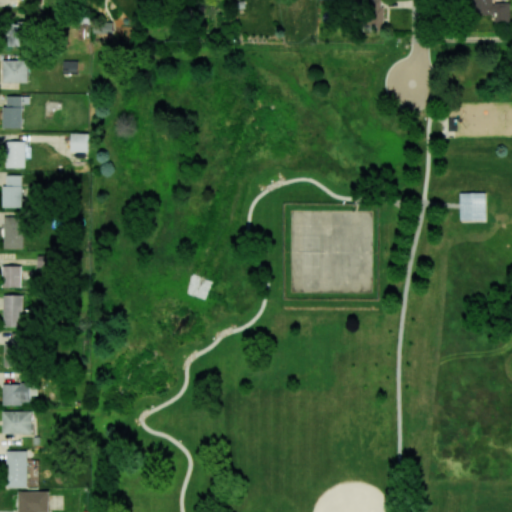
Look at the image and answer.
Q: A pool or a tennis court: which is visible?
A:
tennis court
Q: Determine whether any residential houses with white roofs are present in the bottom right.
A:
No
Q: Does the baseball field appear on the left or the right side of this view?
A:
right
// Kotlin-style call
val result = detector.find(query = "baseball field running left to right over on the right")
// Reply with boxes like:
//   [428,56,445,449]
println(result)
[313,480,386,512]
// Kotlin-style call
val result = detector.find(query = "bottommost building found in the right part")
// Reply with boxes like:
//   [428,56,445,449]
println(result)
[460,192,487,223]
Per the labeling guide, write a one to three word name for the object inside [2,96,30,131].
house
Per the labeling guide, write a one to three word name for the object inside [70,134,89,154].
building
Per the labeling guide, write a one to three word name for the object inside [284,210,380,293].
tennis court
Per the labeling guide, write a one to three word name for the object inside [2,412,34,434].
house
